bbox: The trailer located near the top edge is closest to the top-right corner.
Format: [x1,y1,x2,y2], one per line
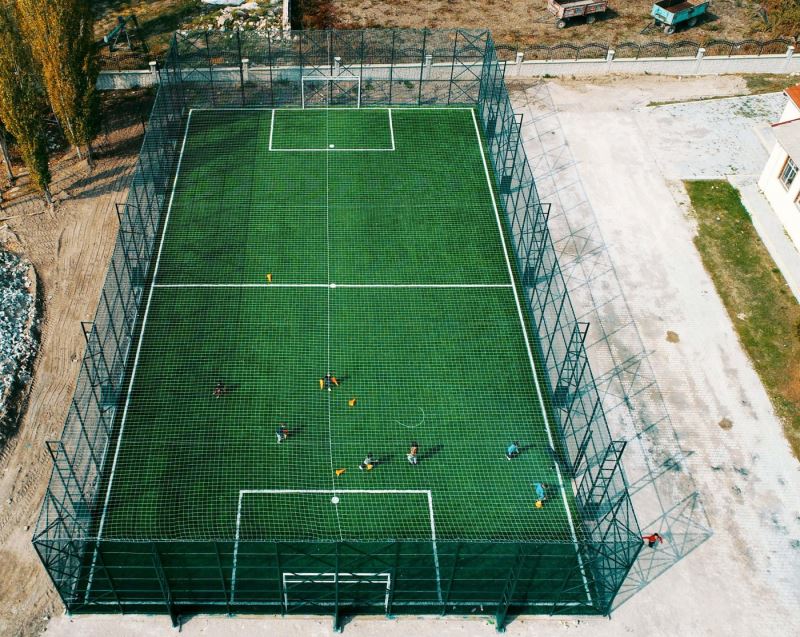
[647,0,705,30]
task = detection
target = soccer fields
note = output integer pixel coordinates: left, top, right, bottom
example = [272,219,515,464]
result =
[71,103,602,612]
